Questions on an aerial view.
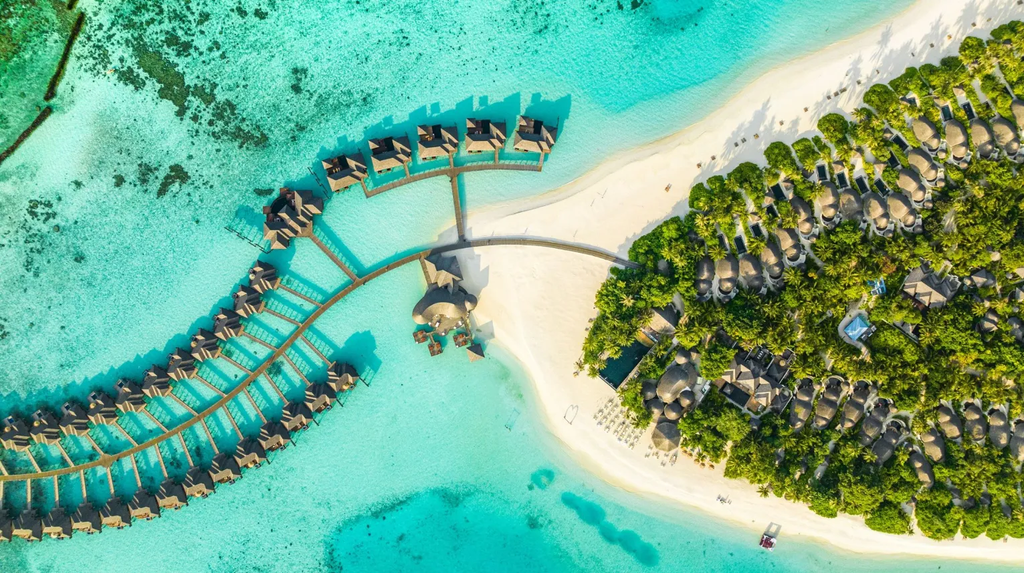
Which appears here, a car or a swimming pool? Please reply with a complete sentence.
Of the two, only a swimming pool appears.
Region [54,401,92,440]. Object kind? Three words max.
house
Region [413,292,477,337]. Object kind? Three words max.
building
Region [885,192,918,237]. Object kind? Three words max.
house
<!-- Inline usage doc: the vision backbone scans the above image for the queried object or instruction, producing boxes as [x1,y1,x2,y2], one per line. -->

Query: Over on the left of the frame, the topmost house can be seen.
[264,188,325,249]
